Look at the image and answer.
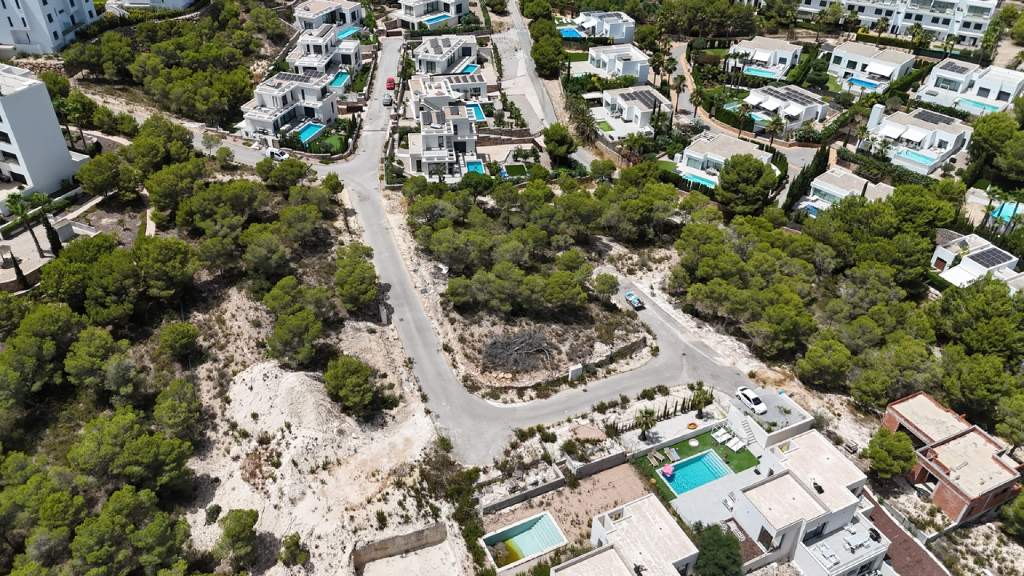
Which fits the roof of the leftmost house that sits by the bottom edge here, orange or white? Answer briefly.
white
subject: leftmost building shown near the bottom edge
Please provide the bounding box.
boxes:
[553,494,698,576]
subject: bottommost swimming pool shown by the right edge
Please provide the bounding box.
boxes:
[987,202,1024,222]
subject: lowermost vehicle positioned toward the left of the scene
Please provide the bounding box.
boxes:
[257,144,288,162]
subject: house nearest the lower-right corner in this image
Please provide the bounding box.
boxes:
[882,391,1024,531]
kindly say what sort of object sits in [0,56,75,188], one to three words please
building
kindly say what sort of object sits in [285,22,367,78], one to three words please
house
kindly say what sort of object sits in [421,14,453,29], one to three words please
swimming pool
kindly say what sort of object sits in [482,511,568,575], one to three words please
swimming pool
